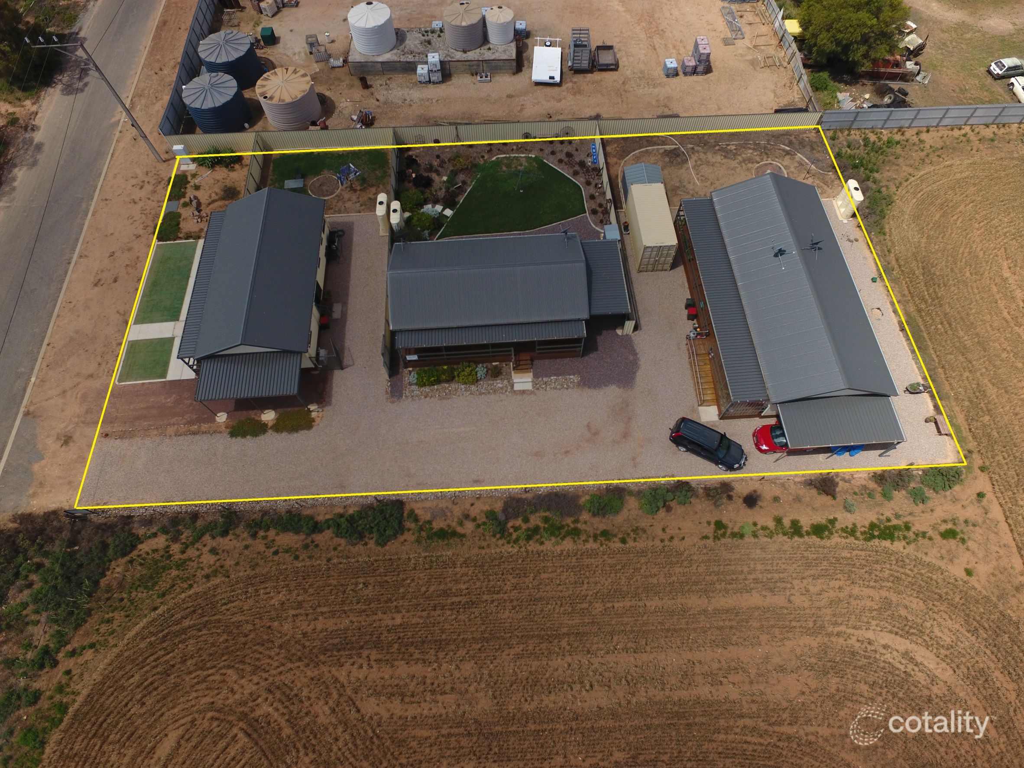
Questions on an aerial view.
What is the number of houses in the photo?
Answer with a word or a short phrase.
three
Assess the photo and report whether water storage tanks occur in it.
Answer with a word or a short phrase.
Yes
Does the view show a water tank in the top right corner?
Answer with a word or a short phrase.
Yes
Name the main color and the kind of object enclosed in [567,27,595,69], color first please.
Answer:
gray trailer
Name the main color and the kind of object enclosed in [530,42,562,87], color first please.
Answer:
white trailer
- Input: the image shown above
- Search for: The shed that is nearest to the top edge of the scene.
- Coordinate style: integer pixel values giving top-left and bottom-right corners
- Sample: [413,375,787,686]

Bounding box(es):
[620,162,667,208]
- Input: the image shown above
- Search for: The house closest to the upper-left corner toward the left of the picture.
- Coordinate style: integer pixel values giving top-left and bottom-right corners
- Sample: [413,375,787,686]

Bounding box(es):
[174,188,331,417]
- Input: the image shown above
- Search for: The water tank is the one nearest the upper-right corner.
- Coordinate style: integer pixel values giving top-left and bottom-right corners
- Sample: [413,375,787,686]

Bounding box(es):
[830,178,863,221]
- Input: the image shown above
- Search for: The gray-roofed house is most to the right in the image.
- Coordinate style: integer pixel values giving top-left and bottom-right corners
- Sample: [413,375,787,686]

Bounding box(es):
[673,172,909,463]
